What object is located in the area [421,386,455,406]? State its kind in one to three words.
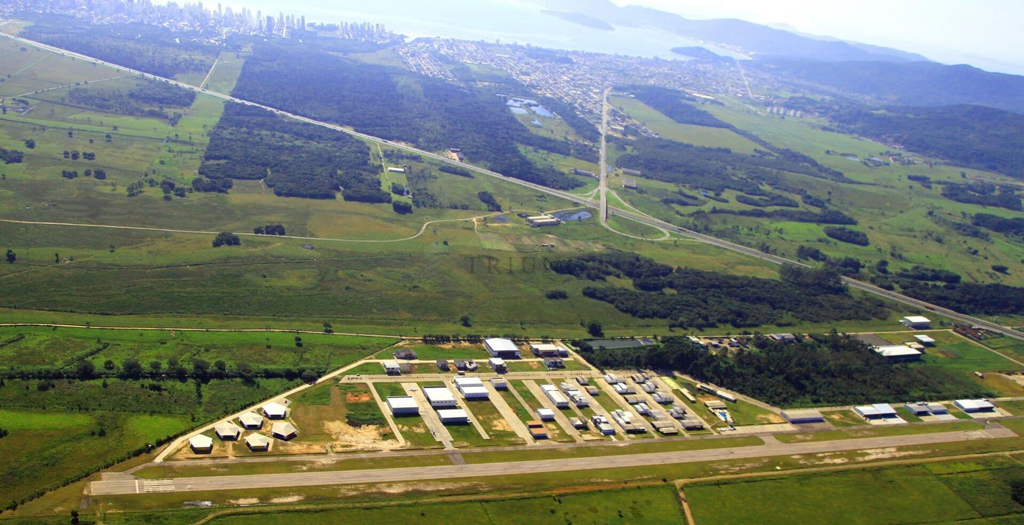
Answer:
hangar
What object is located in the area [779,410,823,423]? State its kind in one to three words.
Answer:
hangar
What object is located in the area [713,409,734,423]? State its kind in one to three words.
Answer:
swimming pool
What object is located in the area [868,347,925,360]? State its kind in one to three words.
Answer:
building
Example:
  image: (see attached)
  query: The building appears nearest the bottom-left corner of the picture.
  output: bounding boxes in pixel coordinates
[187,435,214,451]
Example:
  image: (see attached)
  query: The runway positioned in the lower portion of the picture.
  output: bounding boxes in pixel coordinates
[92,427,1018,495]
